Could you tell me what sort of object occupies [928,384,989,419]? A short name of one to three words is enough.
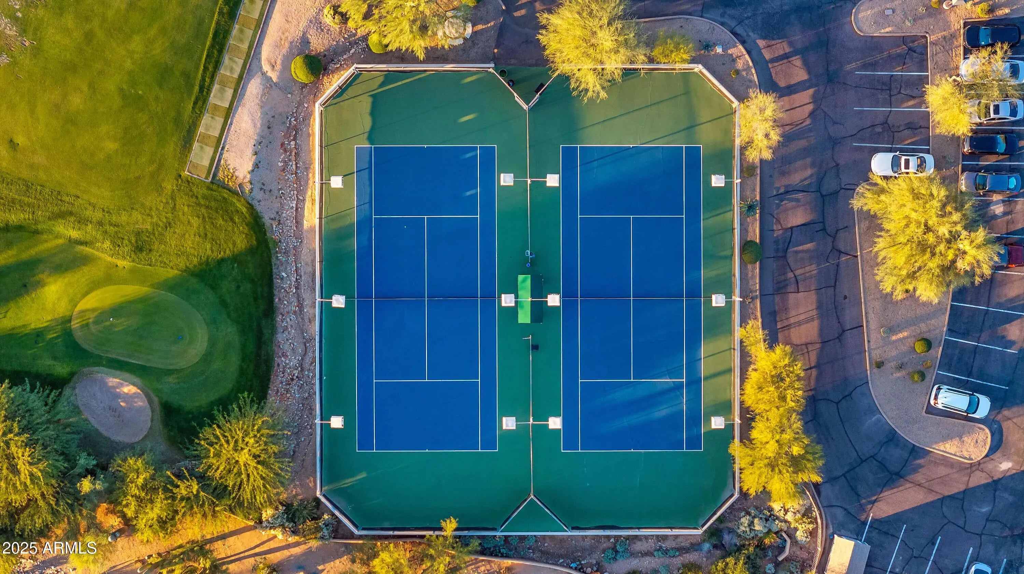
car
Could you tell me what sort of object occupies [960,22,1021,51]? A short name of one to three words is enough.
car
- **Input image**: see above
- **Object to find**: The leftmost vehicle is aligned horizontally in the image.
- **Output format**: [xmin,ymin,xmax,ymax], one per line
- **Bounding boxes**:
[868,150,933,179]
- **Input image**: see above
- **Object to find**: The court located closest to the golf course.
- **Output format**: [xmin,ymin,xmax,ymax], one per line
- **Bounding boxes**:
[319,66,529,529]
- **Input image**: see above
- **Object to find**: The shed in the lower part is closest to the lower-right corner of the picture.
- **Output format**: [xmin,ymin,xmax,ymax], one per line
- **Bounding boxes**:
[821,534,871,574]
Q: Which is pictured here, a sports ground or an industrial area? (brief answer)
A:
sports ground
